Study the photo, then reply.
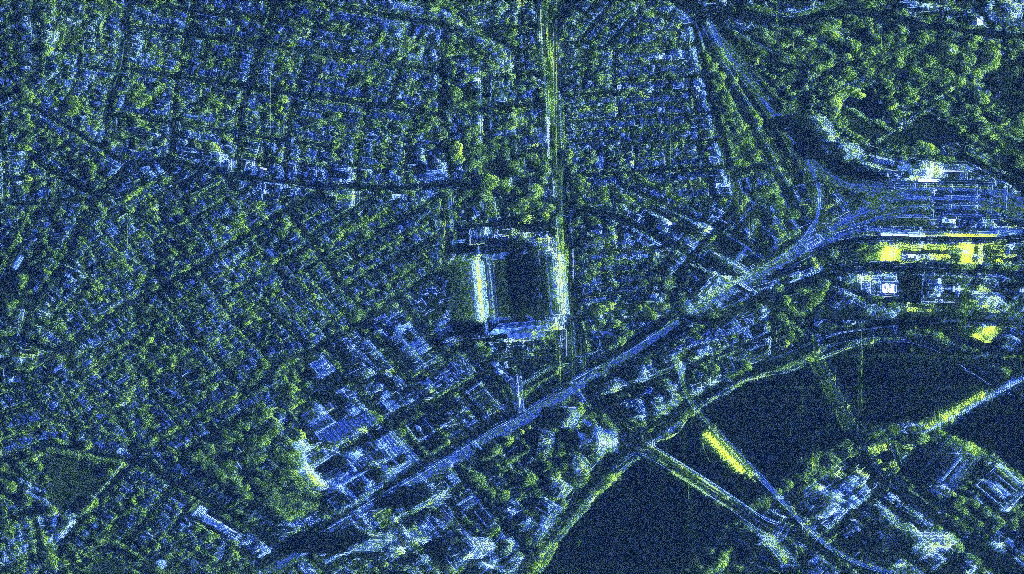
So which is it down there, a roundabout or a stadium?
stadium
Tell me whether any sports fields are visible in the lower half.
Yes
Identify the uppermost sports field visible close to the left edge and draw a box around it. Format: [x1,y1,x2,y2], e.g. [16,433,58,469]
[44,454,119,512]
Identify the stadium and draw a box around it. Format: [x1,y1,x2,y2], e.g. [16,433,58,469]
[450,237,571,342]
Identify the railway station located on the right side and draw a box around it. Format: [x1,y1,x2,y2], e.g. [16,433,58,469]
[902,185,1024,216]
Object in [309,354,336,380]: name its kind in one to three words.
building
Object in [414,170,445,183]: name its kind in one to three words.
building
